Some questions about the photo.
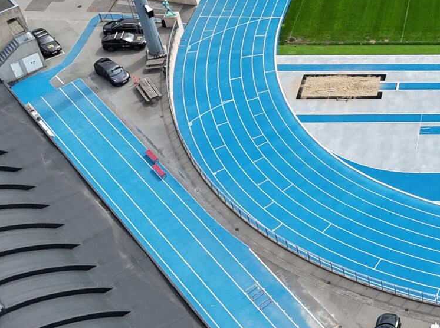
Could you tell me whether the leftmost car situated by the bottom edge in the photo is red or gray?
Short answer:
gray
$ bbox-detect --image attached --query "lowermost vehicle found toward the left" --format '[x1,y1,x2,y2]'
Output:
[91,60,129,86]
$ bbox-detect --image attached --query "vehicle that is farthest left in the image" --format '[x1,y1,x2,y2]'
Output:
[35,29,60,57]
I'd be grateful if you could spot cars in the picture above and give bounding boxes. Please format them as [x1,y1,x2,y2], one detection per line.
[373,308,400,328]
[100,19,143,38]
[35,29,60,57]
[100,35,145,53]
[91,60,129,86]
